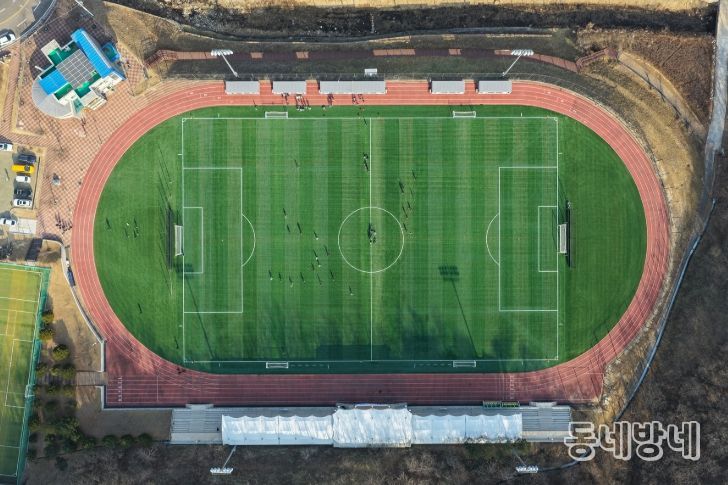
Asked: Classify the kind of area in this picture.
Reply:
sports ground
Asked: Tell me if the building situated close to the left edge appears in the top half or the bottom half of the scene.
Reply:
top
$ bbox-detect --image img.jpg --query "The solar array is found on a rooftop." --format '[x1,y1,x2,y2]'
[55,50,97,89]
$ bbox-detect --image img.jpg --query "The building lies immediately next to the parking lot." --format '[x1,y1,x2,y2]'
[32,28,129,120]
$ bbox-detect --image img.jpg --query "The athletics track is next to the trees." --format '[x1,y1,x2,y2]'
[70,75,670,408]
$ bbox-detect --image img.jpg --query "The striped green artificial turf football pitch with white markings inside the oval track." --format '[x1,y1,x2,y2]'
[95,105,645,374]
